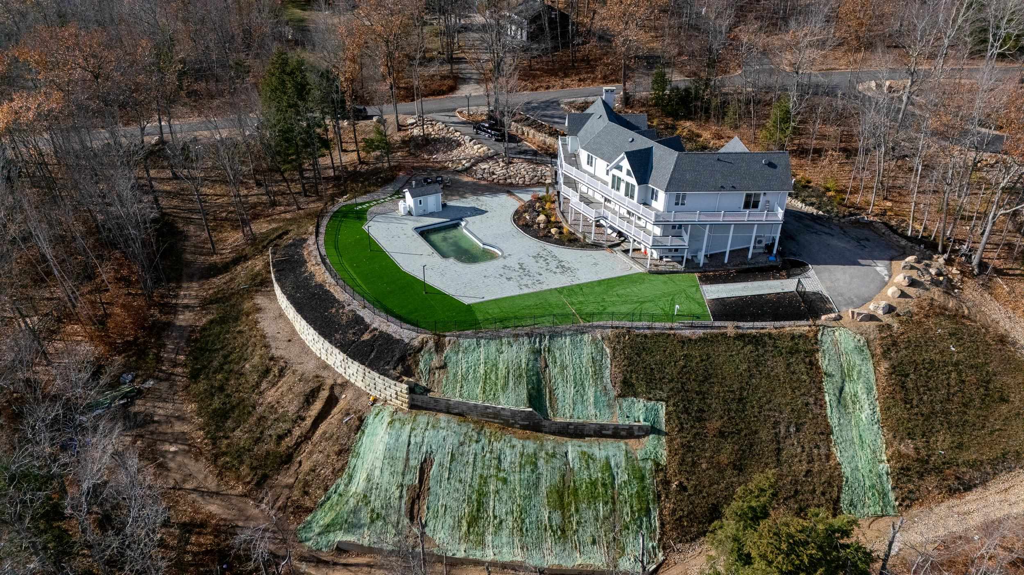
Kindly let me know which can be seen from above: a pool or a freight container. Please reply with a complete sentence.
Of the two, only a pool appears.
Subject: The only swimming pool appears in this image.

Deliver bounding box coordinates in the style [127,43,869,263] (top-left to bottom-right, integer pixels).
[412,218,505,264]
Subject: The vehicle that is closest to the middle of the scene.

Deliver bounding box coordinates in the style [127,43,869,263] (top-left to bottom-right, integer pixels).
[469,119,514,141]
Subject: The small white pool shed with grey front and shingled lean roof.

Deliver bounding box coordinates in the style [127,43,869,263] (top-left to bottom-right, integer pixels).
[404,176,443,216]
